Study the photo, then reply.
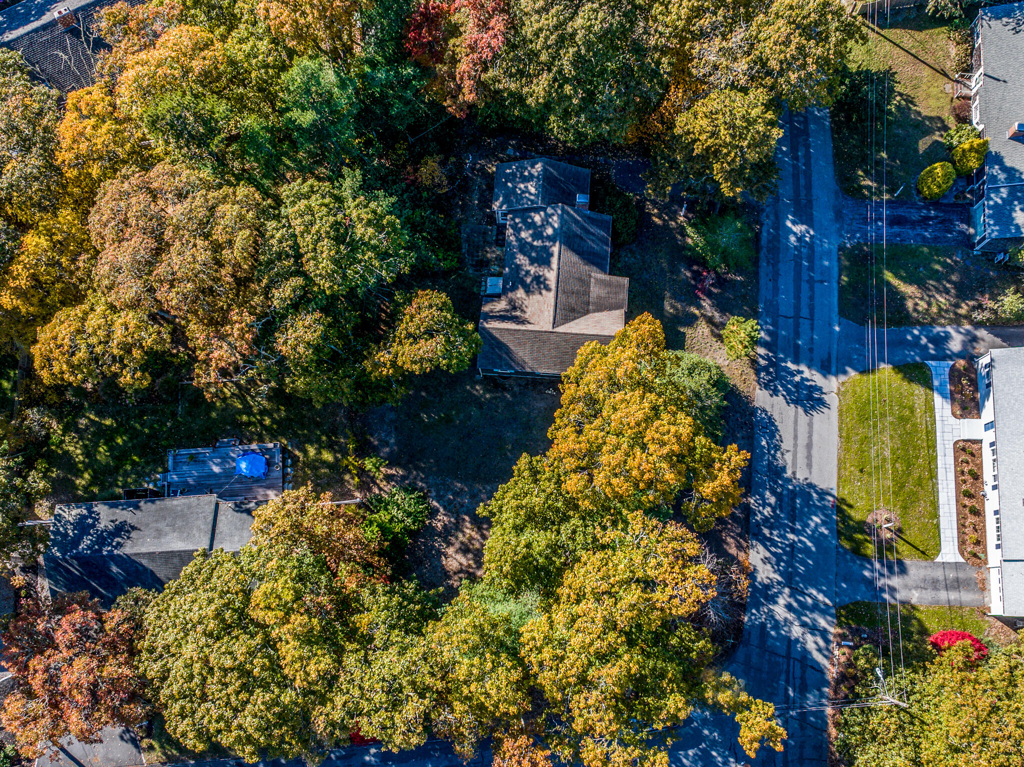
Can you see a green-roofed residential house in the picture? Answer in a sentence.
No, I find no green-roofed residential house anywhere in the image.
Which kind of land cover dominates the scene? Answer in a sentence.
The largest share of the image is taken up by trees.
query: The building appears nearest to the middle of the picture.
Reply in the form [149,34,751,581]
[475,153,630,385]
